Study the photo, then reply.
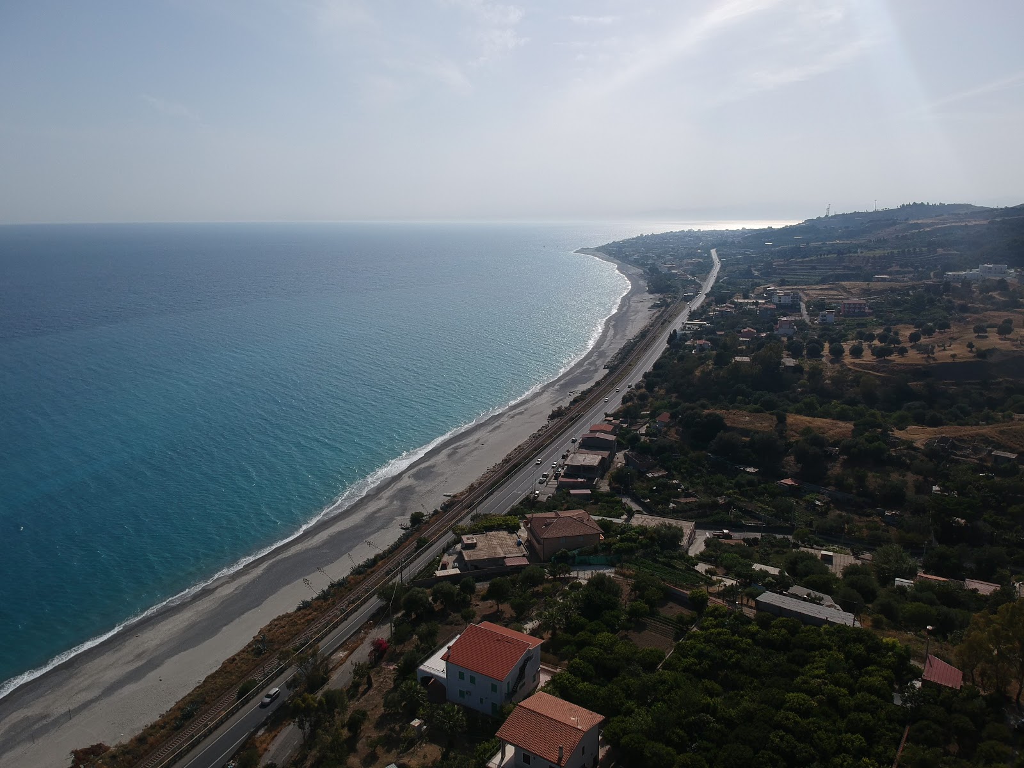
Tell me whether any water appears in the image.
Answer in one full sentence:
Yes, water can be seen from above here.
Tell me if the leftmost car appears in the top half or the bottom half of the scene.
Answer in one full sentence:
The leftmost car sits in the bottom half of the picture.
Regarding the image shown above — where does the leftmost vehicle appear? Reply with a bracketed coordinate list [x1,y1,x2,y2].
[258,689,284,710]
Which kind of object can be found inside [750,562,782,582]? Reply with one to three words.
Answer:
shed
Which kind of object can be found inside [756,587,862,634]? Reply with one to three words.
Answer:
shed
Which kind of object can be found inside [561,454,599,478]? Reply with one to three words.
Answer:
building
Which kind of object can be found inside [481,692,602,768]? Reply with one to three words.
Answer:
house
